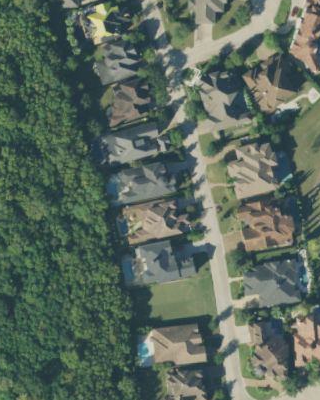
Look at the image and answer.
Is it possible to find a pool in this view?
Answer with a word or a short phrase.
Yes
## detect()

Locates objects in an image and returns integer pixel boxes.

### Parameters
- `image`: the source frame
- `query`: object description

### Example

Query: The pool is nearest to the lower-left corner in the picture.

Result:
[138,332,154,366]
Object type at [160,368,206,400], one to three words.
house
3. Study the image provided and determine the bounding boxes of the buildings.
[248,322,294,381]
[151,324,207,366]
[228,143,278,200]
[118,162,178,202]
[138,241,200,286]
[200,70,253,130]
[96,40,138,86]
[105,80,152,127]
[160,368,206,400]
[290,316,320,368]
[290,0,320,71]
[102,123,173,162]
[123,200,192,244]
[188,0,228,24]
[243,259,302,308]
[237,202,296,251]
[87,2,126,45]
[242,58,301,113]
